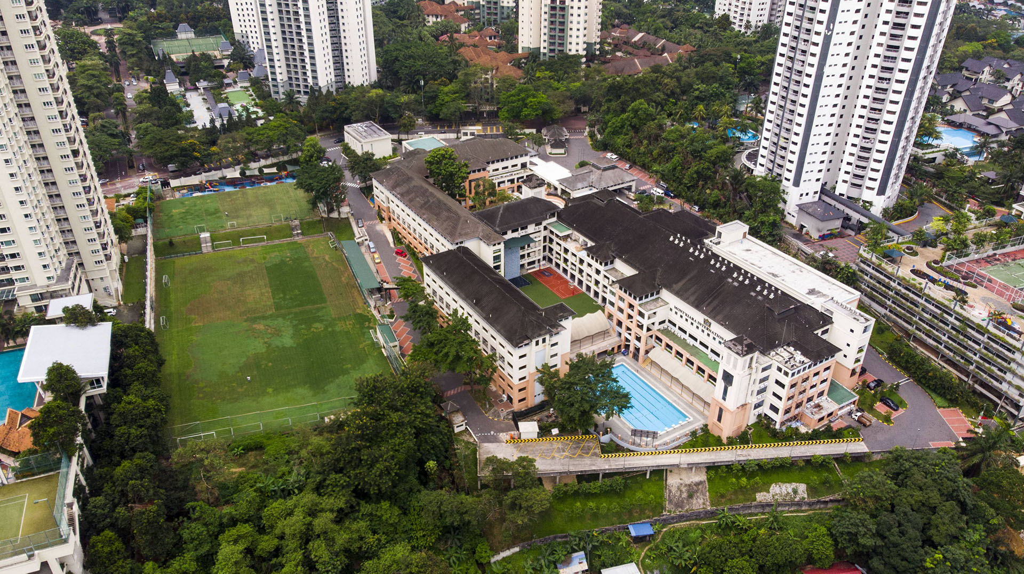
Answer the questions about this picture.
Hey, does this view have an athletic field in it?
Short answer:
Yes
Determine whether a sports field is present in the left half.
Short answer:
Yes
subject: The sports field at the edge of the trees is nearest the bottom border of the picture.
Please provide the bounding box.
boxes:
[155,235,397,443]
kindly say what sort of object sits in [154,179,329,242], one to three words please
sports field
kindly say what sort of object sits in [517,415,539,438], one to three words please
shed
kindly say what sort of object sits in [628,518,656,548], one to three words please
shed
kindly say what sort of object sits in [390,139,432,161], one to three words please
building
